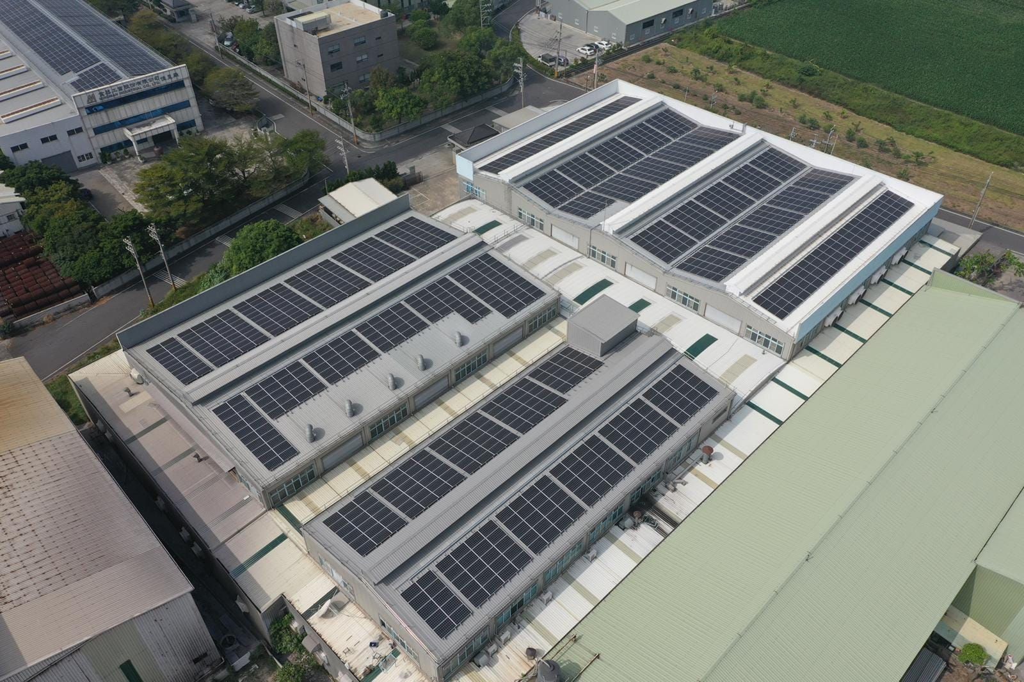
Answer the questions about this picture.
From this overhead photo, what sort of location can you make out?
industrial area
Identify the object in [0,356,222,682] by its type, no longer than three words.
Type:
warehouse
